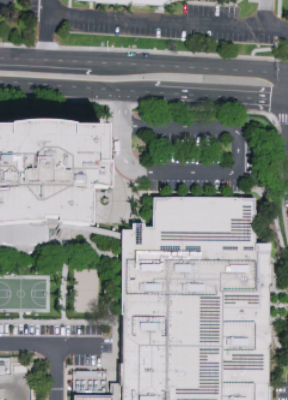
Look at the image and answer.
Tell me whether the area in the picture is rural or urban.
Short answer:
urban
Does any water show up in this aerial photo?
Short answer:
No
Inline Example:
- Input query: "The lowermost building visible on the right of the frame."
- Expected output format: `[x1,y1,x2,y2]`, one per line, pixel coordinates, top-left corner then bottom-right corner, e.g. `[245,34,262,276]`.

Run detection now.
[122,196,272,400]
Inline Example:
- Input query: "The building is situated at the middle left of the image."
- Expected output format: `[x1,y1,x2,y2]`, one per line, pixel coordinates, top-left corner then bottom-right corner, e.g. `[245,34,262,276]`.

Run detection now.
[0,119,116,226]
